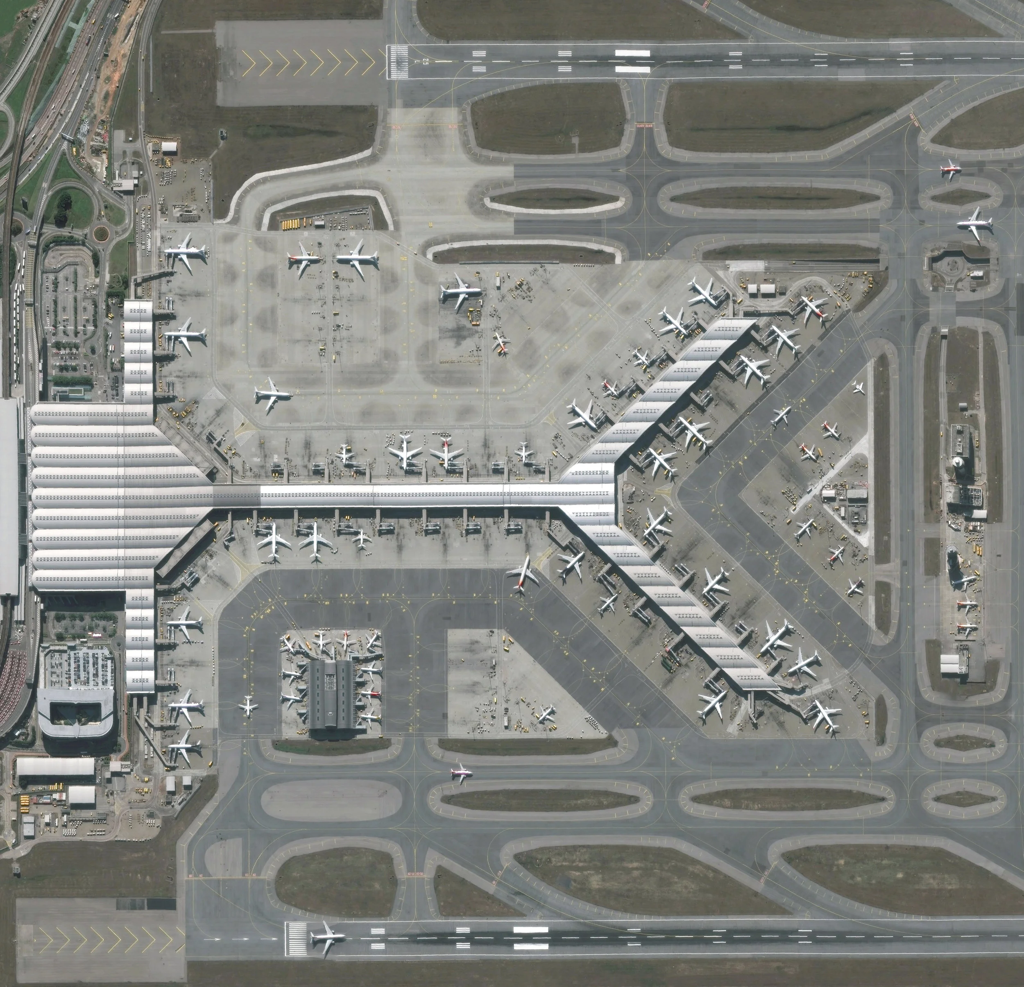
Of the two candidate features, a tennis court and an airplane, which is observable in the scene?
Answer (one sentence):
Looking from above, you can make out an airplane.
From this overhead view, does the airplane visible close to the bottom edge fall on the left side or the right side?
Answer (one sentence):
It is on the left.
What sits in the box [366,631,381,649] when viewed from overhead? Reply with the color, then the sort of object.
white airplane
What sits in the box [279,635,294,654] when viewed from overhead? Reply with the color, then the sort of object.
white airplane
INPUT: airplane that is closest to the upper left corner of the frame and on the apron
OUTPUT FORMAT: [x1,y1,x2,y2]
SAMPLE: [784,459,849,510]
[164,233,205,269]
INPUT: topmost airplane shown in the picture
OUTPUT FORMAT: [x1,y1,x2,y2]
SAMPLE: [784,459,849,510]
[940,159,961,178]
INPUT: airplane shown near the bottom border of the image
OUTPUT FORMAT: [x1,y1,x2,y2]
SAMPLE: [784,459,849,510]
[310,919,345,953]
